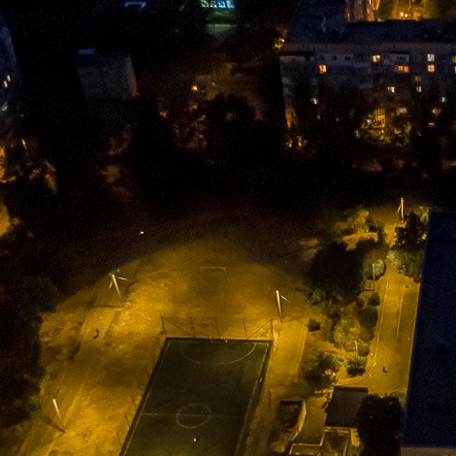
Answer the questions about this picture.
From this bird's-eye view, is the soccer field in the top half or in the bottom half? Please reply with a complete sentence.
It is in the bottom half that the soccer field appears.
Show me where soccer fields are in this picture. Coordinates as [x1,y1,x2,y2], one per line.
[118,335,273,456]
